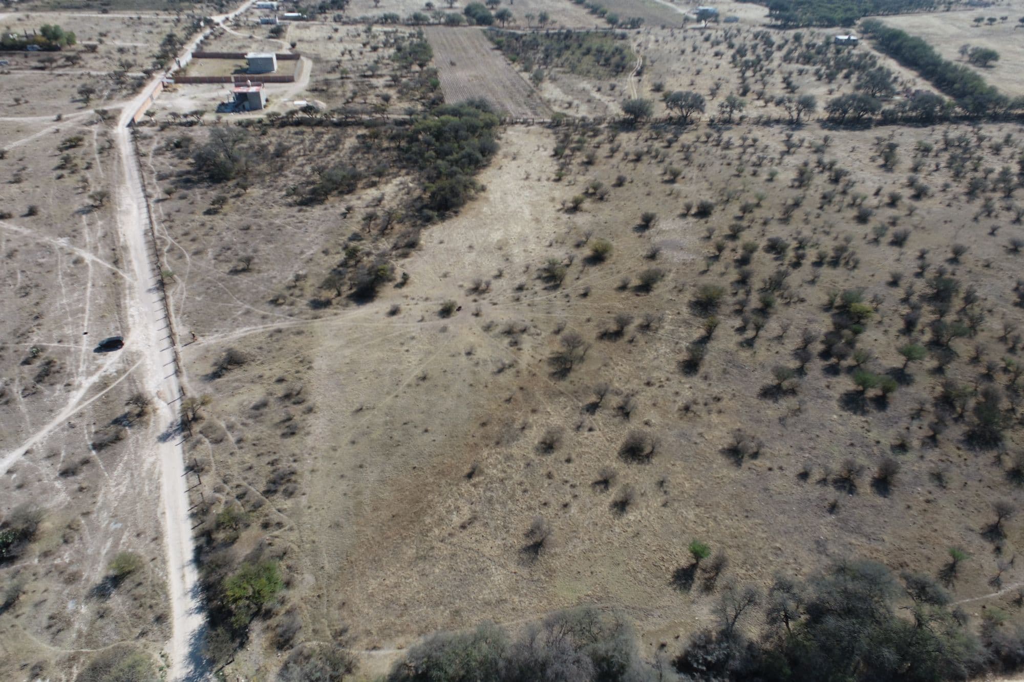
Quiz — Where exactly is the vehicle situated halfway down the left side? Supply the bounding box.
[95,334,127,351]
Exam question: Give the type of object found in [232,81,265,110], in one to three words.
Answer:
house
